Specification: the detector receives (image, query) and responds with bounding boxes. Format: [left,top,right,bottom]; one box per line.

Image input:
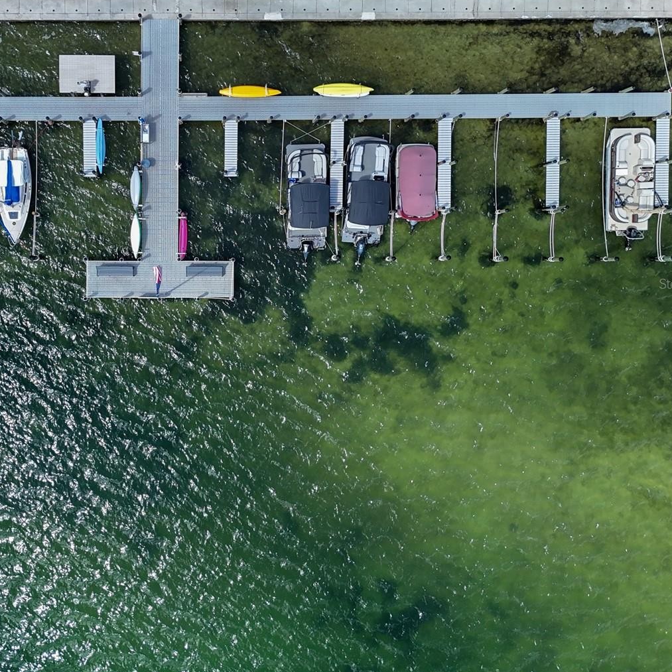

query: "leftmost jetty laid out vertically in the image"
[81,114,100,178]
